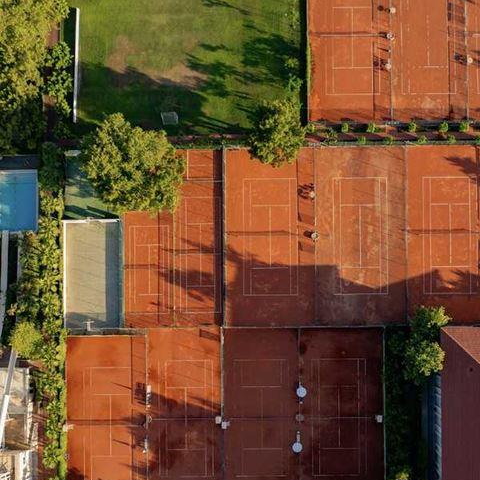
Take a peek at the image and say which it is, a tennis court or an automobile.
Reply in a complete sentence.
Of the two, only a tennis court appears.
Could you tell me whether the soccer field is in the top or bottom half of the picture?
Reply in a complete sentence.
The soccer field sits in the top half of the picture.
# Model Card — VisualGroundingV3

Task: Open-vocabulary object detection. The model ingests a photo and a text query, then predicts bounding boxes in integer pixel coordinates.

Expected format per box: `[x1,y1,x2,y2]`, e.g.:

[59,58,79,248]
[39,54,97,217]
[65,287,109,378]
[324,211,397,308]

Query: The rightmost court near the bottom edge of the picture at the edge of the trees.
[300,328,384,480]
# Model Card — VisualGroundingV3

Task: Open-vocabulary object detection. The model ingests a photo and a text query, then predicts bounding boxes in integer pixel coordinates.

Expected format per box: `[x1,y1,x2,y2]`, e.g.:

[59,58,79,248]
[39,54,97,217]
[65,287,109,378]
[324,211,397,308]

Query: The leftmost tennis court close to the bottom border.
[66,336,147,480]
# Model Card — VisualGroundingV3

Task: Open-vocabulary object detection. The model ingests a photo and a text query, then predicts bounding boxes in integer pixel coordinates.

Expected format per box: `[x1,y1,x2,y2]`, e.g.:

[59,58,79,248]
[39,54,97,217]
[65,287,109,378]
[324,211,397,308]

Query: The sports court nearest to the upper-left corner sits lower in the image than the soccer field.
[63,152,124,220]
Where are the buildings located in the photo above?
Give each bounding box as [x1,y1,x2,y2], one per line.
[0,366,39,480]
[429,326,480,480]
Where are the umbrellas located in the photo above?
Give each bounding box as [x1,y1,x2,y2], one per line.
[292,442,303,452]
[296,386,306,397]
